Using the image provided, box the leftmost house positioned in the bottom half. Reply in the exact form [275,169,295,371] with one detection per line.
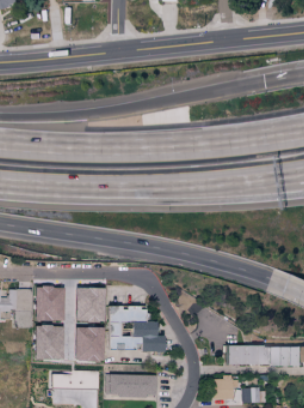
[0,288,32,328]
